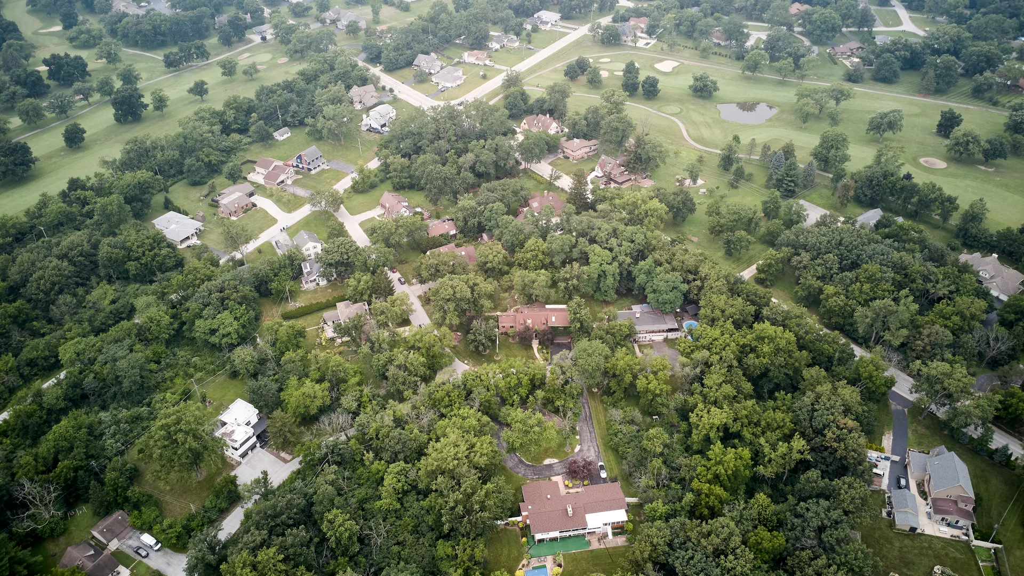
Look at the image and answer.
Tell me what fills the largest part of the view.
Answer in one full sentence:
The largest share of the image is taken up by trees.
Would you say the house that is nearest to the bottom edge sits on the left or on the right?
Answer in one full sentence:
The house that is nearest to the bottom edge appears in the left half of the scene.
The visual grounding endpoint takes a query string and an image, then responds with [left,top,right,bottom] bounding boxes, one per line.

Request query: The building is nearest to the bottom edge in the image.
[63,536,132,576]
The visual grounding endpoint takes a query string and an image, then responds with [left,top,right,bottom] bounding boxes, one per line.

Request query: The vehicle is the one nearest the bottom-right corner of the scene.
[896,471,908,489]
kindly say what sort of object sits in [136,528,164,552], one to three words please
vehicle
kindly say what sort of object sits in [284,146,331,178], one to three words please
house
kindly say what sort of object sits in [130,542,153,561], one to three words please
car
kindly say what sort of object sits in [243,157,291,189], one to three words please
house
